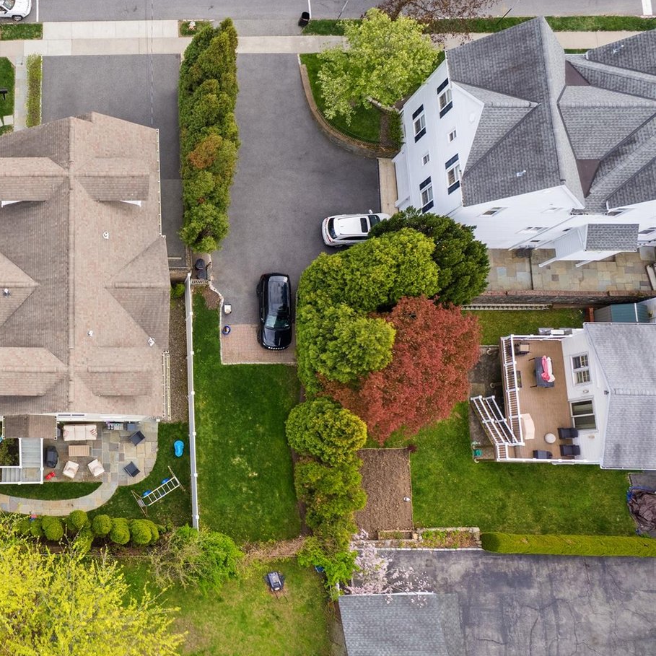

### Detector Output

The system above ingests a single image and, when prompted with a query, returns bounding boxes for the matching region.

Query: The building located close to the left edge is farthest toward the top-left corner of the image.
[0,112,171,439]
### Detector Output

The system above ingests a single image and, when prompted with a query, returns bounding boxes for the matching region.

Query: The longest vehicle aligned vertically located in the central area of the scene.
[261,274,298,354]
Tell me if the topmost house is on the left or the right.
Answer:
right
